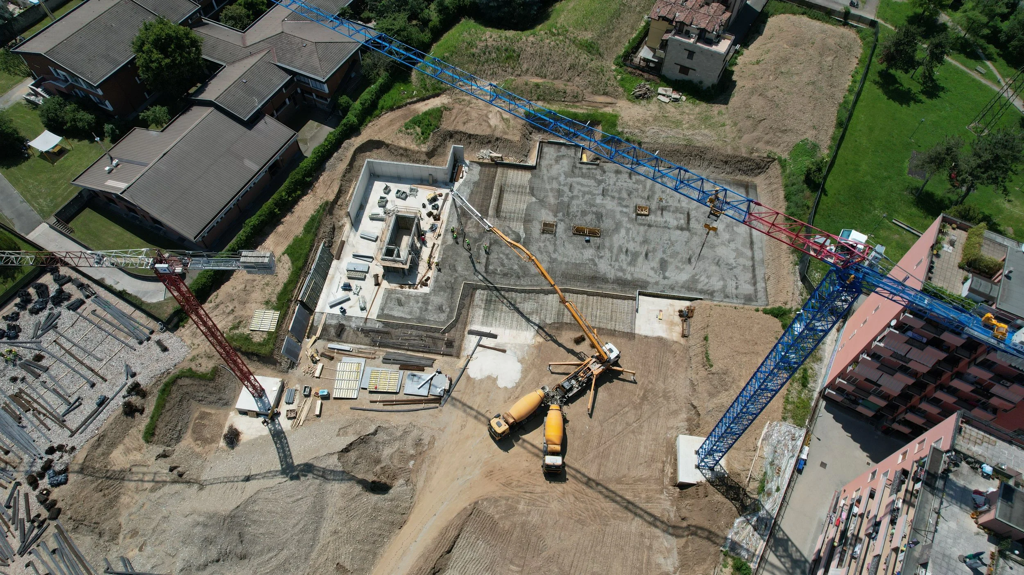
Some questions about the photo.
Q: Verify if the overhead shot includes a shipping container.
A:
No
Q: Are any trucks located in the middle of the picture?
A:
Yes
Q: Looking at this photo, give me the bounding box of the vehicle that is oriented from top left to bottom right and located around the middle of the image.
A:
[449,190,636,415]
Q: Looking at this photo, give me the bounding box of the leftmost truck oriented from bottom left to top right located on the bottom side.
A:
[482,380,555,444]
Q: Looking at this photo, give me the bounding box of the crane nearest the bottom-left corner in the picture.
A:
[0,242,288,402]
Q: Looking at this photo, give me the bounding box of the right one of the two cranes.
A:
[270,0,1024,470]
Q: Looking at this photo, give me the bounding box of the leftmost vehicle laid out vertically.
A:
[540,386,569,475]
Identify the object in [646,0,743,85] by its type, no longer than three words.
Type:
house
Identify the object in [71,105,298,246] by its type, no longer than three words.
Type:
building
